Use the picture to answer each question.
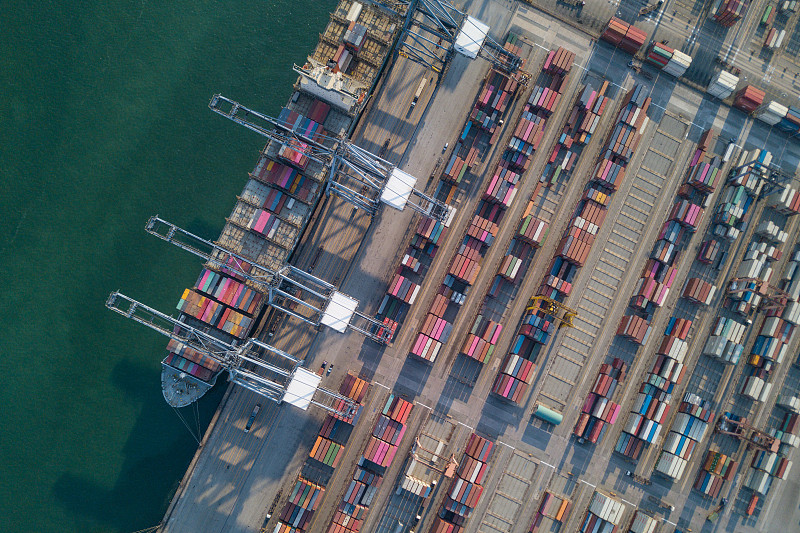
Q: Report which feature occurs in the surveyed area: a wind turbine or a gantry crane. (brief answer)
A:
gantry crane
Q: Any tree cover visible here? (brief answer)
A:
No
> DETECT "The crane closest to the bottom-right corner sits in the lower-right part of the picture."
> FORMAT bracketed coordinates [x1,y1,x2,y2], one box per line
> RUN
[708,405,777,452]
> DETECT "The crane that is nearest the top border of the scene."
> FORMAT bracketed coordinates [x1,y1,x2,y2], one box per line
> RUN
[391,0,537,81]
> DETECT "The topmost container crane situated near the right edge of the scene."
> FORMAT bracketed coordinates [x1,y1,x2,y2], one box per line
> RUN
[717,159,788,207]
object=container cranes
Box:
[708,405,777,452]
[203,86,453,224]
[140,210,396,347]
[101,287,359,423]
[714,270,784,308]
[517,291,580,331]
[717,159,788,207]
[391,0,537,81]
